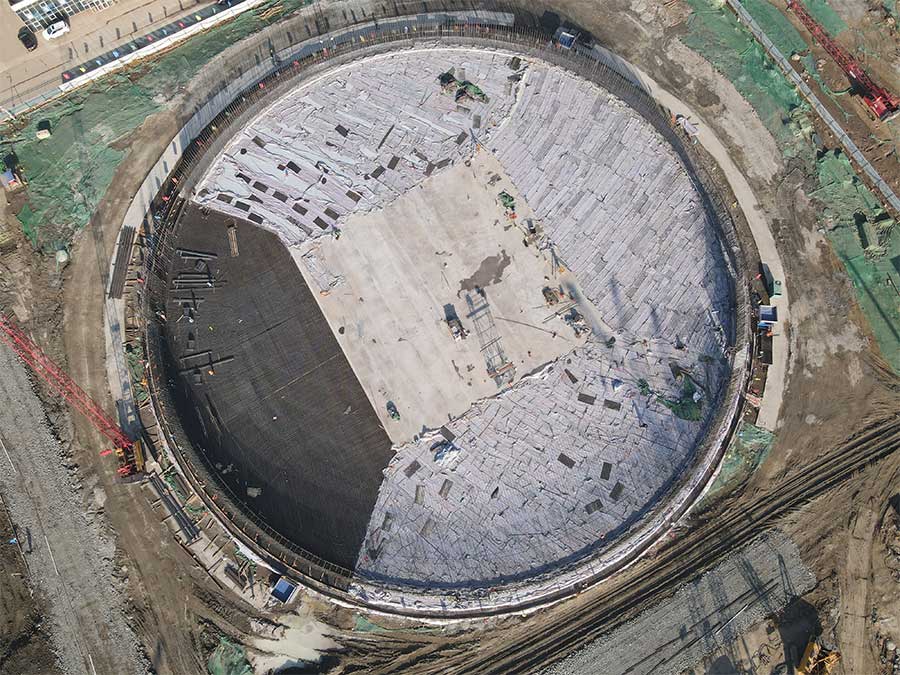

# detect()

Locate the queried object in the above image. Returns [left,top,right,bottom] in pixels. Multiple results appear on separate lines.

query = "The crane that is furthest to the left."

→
[0,320,149,485]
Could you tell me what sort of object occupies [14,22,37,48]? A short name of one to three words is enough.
car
